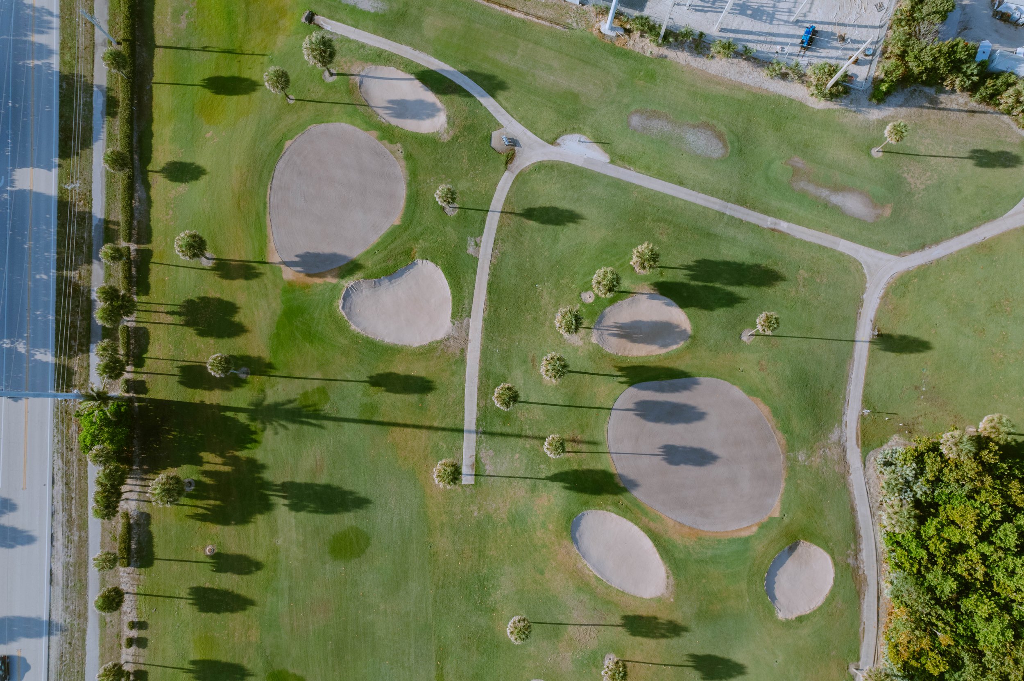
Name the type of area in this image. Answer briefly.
golf course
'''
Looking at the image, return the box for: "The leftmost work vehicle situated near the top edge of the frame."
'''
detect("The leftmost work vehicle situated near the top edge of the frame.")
[798,23,817,61]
